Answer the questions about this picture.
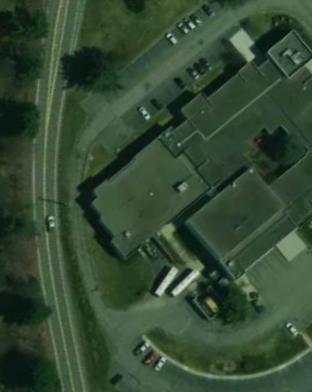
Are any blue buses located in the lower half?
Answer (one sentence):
No, no blue bus appears in the lower half.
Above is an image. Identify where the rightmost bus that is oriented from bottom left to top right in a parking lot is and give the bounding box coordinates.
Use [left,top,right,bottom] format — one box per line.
[172,269,200,294]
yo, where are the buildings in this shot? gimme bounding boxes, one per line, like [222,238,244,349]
[89,31,312,279]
